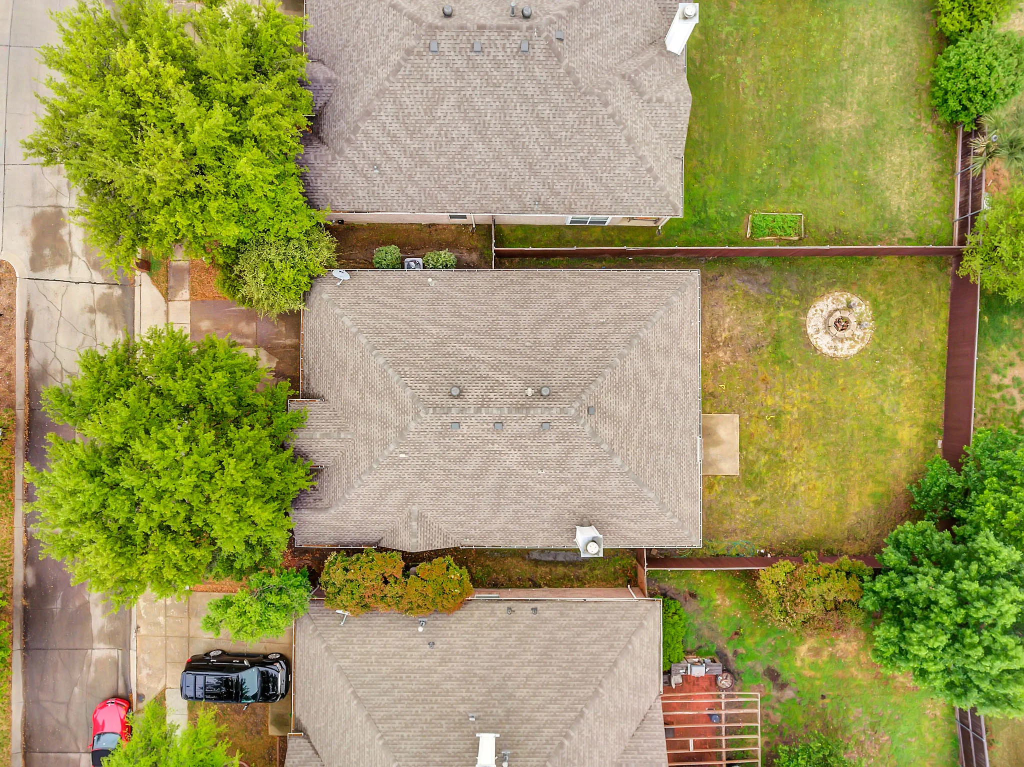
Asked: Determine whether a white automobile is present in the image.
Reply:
No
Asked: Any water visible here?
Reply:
No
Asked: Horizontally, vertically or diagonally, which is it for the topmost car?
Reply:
horizontally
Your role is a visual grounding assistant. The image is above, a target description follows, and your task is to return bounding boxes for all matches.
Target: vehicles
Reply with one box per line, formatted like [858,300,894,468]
[183,652,292,708]
[89,693,139,767]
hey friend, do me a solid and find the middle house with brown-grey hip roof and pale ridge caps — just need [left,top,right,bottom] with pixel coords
[280,269,703,559]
